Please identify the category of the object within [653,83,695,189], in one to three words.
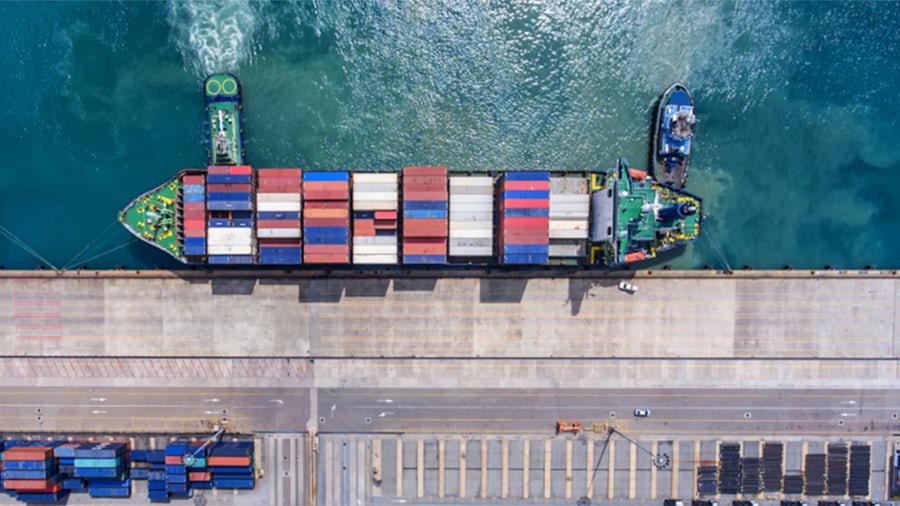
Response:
boat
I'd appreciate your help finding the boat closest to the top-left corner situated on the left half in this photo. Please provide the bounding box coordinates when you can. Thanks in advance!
[204,74,242,166]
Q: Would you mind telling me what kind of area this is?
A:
port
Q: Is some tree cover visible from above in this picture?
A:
No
